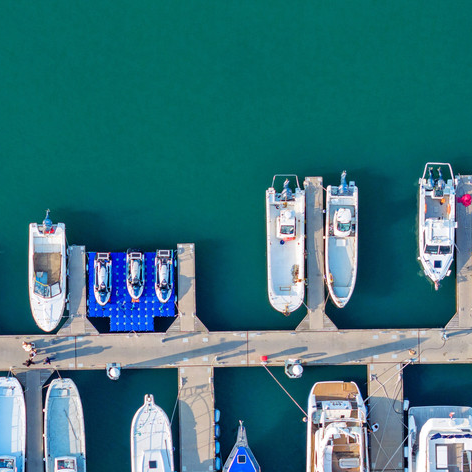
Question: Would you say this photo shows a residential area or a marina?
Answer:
marina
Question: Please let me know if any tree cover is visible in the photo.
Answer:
No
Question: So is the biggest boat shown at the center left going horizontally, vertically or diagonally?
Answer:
vertically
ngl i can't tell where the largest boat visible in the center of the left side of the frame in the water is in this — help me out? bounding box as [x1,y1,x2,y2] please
[28,206,67,332]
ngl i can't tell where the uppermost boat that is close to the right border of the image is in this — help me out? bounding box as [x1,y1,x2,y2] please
[416,163,460,291]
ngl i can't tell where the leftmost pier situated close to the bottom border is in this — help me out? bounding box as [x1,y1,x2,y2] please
[14,370,54,472]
